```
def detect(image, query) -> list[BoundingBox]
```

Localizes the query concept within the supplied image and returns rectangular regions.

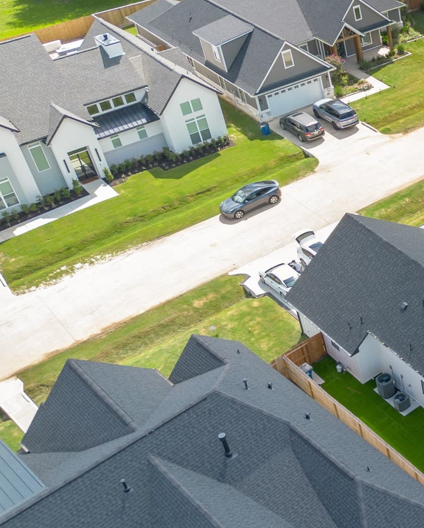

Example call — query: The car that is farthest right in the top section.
[312,100,358,129]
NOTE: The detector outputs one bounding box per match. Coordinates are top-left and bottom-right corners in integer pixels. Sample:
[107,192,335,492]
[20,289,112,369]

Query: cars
[312,100,358,129]
[294,225,328,265]
[214,179,281,219]
[257,259,302,299]
[278,110,327,140]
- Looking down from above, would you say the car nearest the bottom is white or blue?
white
